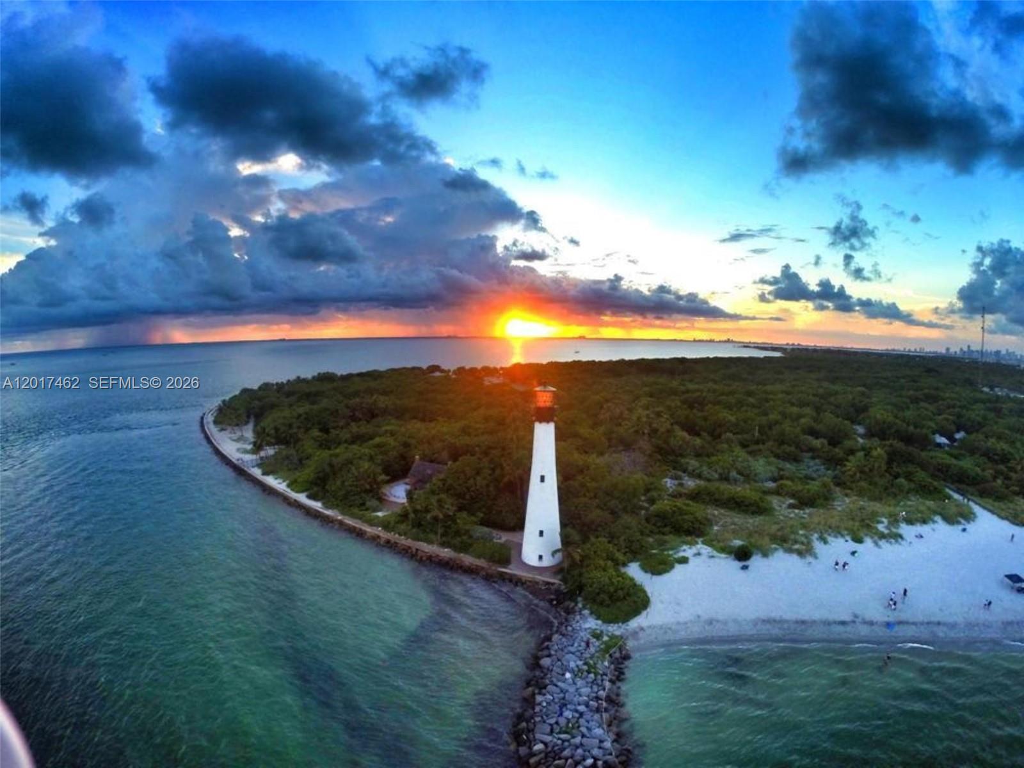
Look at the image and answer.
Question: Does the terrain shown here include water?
Yes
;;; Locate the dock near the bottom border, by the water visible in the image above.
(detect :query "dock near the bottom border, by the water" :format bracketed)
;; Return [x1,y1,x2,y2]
[509,589,638,768]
